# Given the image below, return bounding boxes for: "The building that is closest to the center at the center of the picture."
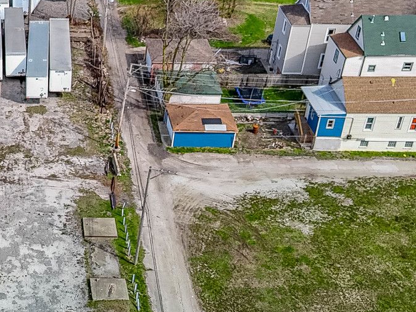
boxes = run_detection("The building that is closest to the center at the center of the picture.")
[165,104,240,148]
